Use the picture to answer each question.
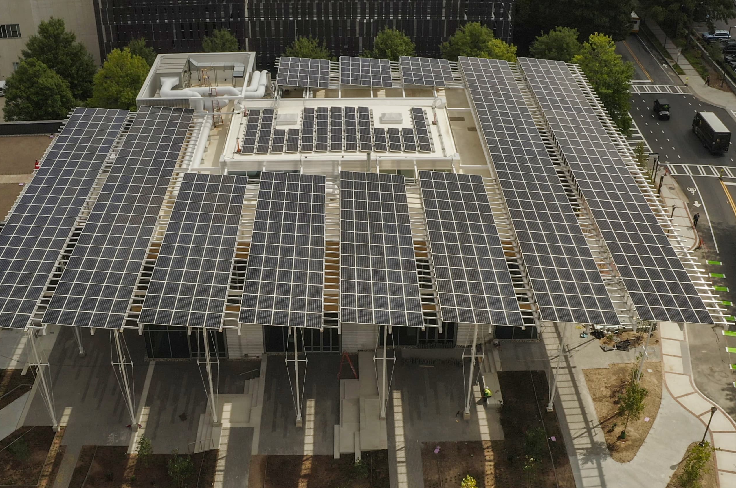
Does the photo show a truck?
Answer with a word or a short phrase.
Yes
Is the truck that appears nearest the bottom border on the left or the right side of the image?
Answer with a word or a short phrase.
right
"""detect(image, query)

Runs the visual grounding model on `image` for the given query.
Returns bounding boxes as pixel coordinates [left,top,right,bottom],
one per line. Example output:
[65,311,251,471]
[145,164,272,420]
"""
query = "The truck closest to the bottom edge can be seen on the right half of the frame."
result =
[696,115,735,152]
